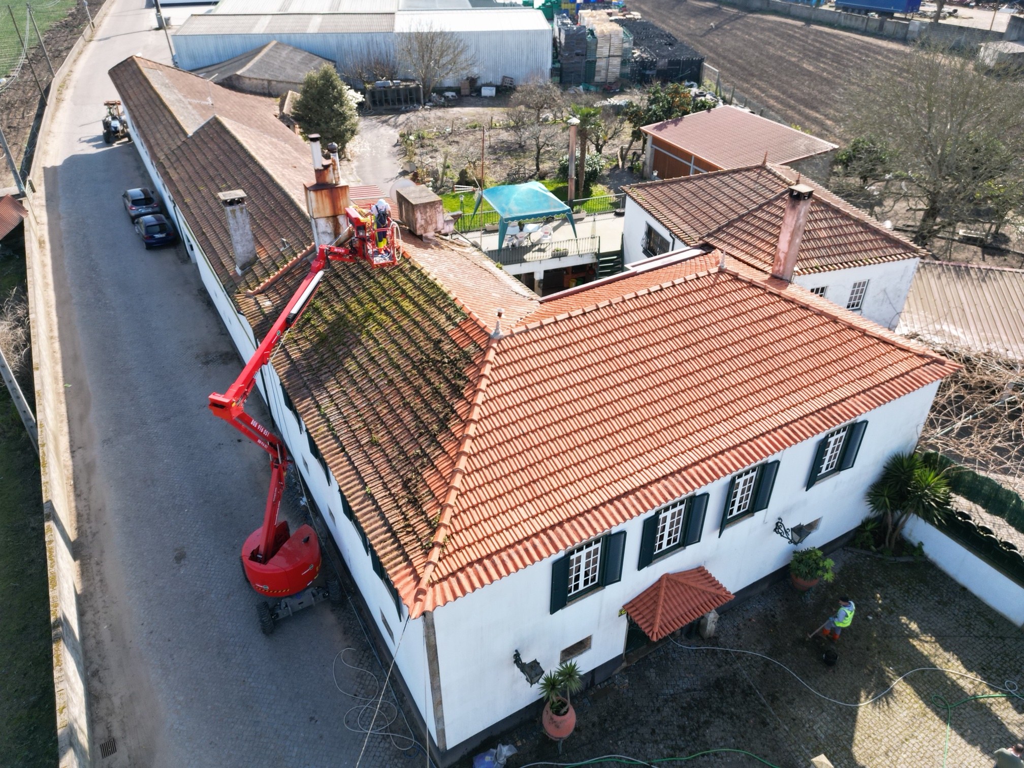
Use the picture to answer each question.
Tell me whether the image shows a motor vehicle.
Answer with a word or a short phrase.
Yes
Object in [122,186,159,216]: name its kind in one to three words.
car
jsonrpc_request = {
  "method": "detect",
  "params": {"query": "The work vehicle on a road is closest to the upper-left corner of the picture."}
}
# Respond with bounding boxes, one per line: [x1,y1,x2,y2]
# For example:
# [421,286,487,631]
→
[102,105,127,143]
